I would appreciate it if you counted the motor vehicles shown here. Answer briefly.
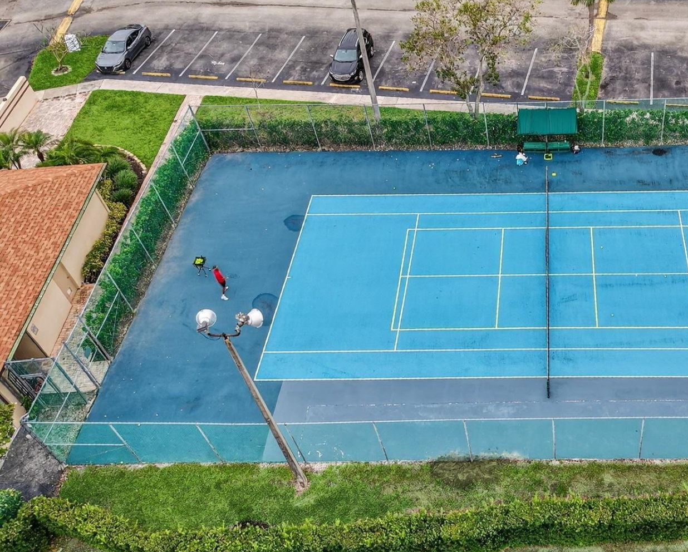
2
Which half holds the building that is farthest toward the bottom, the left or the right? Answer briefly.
left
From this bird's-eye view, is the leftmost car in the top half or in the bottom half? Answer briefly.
top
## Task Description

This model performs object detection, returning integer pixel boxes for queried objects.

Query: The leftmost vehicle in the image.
[91,22,151,73]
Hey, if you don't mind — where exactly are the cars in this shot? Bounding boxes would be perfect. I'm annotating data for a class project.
[326,26,374,86]
[91,22,151,73]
